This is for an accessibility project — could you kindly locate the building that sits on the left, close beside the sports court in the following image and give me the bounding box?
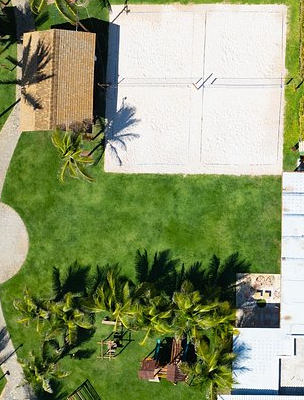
[20,29,101,135]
